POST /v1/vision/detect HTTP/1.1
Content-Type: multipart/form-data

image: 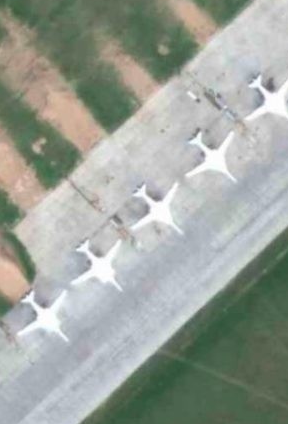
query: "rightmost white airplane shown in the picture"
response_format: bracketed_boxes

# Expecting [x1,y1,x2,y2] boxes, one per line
[244,75,288,119]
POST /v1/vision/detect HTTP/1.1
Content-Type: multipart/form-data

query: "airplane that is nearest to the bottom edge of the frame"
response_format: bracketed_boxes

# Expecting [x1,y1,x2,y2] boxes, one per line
[16,289,69,341]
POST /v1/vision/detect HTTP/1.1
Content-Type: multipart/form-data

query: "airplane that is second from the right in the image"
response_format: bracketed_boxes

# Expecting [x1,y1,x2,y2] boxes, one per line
[185,129,237,182]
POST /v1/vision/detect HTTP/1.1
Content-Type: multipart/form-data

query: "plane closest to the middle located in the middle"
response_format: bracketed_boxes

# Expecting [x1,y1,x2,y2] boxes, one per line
[131,182,183,234]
